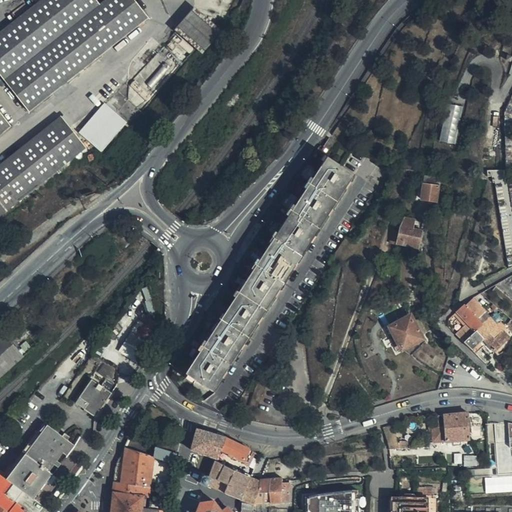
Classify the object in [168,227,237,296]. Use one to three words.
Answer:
roundabout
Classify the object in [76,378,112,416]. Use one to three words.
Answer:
building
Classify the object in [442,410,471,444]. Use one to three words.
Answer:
house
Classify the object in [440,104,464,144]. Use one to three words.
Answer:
greenhouse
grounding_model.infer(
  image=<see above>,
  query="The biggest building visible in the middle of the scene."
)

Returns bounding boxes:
[186,157,355,392]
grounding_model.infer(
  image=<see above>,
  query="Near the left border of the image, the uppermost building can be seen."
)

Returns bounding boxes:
[0,0,148,113]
